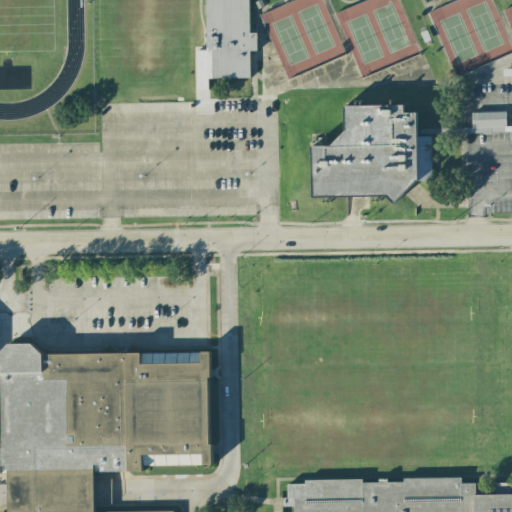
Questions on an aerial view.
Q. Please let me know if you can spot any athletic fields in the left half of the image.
Yes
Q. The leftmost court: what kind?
tennis court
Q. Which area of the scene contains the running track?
top left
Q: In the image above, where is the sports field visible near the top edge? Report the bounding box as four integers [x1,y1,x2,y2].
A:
[0,0,56,52]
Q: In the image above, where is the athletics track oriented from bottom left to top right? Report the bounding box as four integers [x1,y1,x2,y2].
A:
[0,0,86,120]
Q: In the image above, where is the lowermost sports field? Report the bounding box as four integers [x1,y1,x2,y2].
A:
[241,368,512,474]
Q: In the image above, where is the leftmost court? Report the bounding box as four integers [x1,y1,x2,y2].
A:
[262,3,318,78]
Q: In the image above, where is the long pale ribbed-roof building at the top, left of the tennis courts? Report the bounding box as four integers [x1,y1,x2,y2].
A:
[206,0,259,78]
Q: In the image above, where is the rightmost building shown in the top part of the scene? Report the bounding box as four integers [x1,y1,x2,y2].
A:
[472,112,508,134]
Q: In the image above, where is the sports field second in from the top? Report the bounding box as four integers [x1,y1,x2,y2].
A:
[241,260,512,368]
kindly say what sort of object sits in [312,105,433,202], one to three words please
building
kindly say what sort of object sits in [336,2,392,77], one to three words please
tennis court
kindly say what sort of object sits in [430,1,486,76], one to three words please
tennis court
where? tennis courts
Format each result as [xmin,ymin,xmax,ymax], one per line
[262,3,318,78]
[336,2,392,77]
[430,1,486,76]
[458,0,512,64]
[364,0,420,64]
[290,0,346,66]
